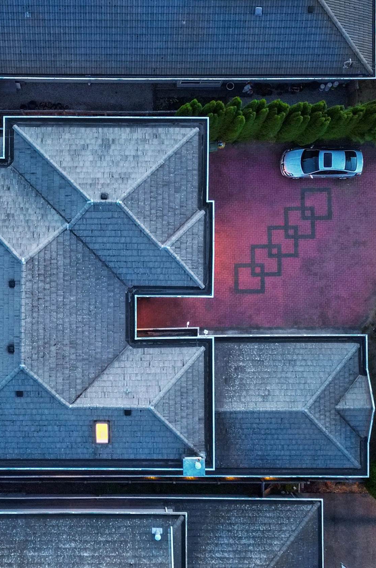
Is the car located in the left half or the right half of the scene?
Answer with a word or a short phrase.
right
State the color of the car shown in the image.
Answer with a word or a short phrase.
blue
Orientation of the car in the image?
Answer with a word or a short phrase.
horizontally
